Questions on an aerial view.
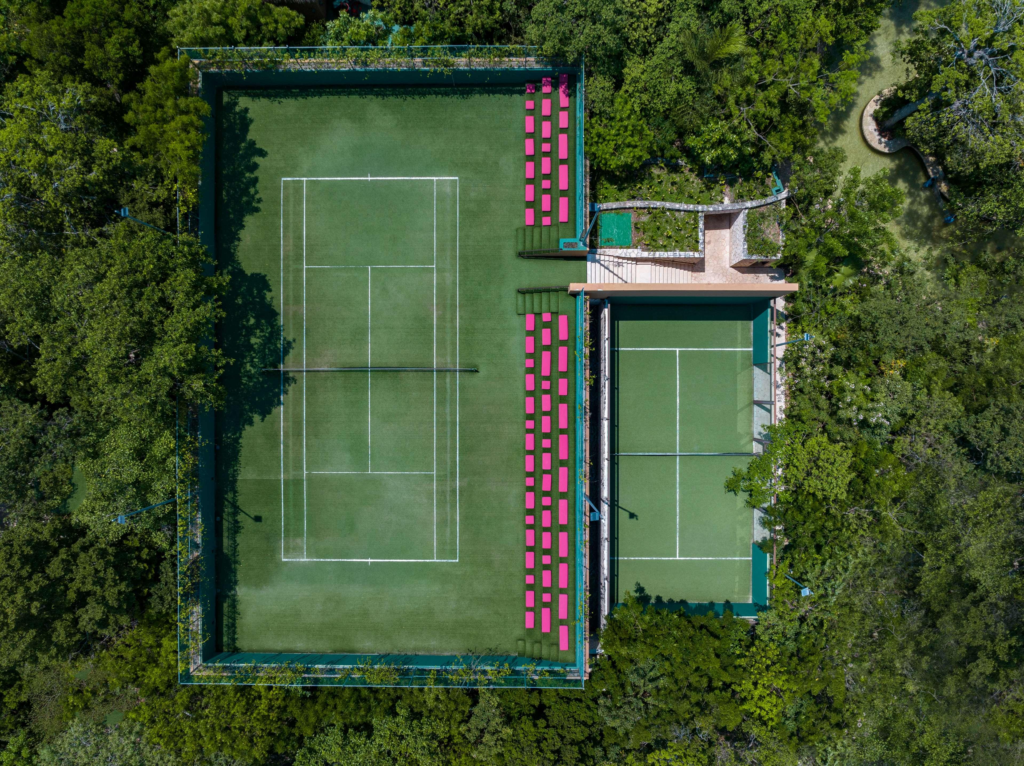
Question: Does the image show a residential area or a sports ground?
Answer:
sports ground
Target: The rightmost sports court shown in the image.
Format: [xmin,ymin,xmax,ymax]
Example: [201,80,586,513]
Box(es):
[610,304,754,605]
